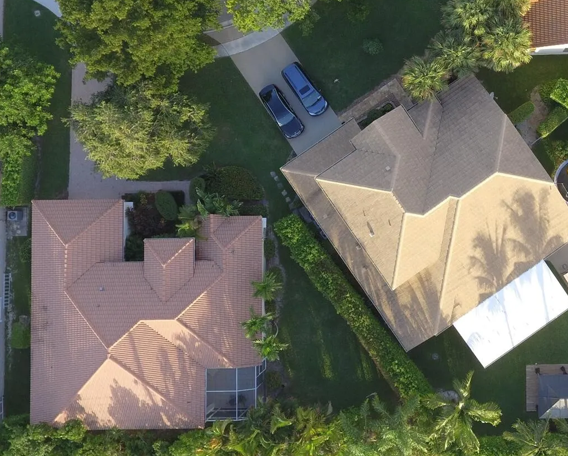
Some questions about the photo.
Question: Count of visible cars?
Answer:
two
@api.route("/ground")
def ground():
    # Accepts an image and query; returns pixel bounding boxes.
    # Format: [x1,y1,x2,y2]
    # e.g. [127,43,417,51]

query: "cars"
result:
[280,58,329,119]
[260,82,303,141]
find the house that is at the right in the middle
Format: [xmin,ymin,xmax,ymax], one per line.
[280,75,568,352]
